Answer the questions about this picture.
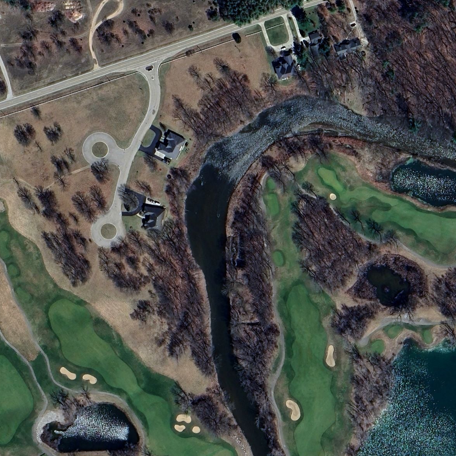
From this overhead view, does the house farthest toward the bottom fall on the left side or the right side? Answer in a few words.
left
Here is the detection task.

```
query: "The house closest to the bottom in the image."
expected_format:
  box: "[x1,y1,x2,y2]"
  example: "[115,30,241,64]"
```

[143,205,165,231]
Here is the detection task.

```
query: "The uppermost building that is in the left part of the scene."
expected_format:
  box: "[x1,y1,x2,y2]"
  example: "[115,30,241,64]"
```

[157,130,187,161]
